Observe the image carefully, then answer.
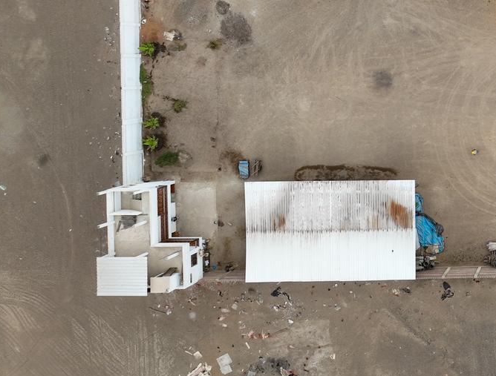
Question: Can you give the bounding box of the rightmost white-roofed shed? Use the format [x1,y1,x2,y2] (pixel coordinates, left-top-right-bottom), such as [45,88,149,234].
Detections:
[245,180,420,282]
